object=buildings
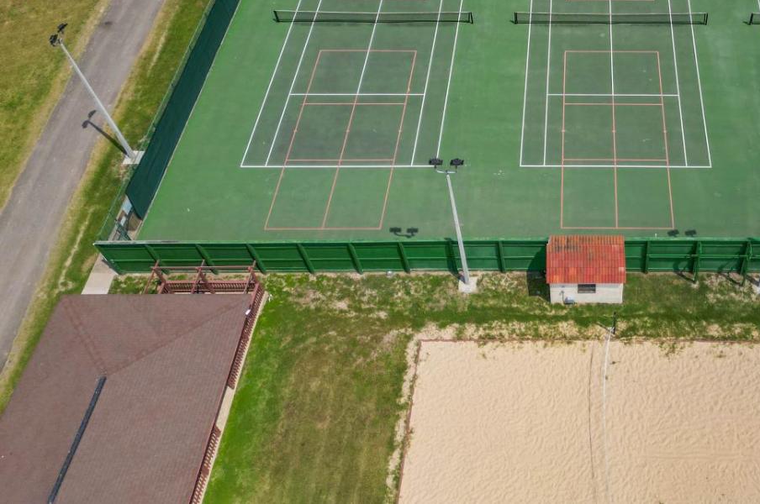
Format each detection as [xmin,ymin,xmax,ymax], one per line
[0,263,269,504]
[545,230,628,303]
